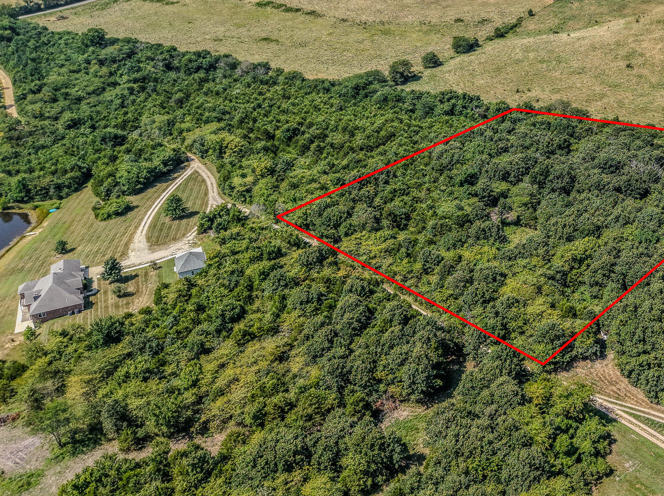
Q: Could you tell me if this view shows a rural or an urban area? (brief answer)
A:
rural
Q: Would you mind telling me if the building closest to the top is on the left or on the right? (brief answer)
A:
left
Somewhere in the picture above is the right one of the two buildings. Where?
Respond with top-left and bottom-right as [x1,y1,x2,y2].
[174,250,208,280]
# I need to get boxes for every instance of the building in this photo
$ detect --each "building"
[18,258,88,325]
[174,250,208,280]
